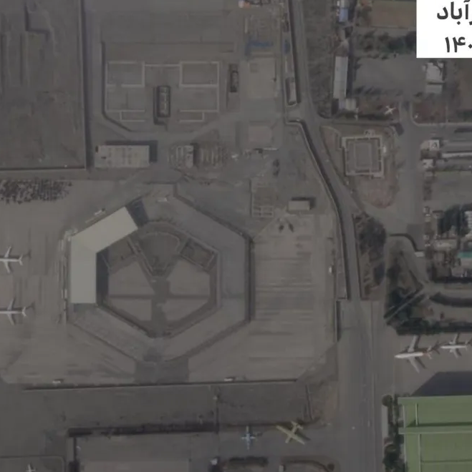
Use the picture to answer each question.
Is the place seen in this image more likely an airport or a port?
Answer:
airport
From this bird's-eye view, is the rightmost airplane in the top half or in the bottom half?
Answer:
bottom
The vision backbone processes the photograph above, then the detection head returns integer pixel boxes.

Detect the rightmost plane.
[441,333,470,360]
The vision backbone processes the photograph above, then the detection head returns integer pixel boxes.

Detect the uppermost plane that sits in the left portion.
[0,246,22,273]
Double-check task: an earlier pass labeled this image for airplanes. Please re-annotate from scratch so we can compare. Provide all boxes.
[395,334,432,374]
[276,423,305,445]
[0,246,22,273]
[441,333,470,360]
[0,299,25,325]
[240,427,255,449]
[385,105,394,114]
